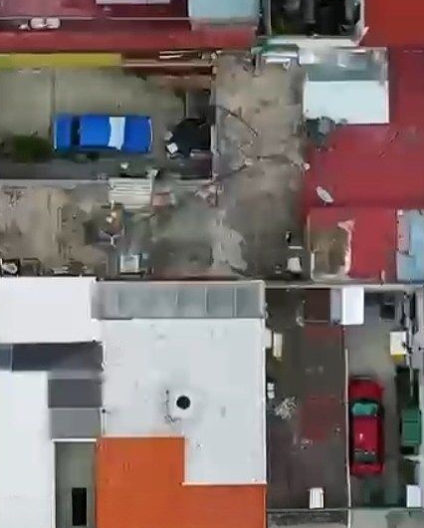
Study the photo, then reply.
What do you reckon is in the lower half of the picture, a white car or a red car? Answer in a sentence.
The one visible in the lower half of the picture is a red car.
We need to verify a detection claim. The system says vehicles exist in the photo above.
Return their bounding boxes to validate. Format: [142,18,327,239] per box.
[51,111,154,155]
[347,377,387,479]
